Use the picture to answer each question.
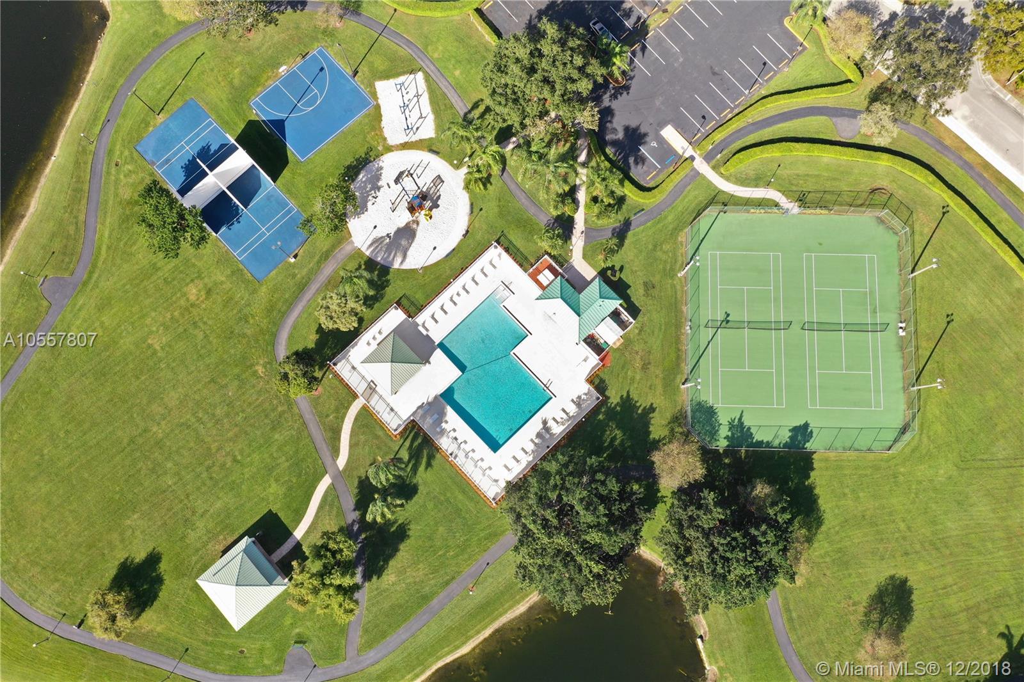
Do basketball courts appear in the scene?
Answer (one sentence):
Yes, this view includes a basketball court.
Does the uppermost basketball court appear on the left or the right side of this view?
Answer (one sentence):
The uppermost basketball court is on the left side of the image.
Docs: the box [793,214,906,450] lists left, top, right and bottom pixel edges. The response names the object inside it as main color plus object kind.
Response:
green tennis court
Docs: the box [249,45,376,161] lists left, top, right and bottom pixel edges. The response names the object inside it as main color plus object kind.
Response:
blue basketball court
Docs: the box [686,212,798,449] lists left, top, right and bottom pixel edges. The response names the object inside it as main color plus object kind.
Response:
green tennis court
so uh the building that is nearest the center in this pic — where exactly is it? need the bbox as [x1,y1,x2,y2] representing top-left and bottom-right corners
[535,275,623,344]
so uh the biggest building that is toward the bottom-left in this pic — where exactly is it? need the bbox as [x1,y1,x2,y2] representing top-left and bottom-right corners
[196,536,289,632]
